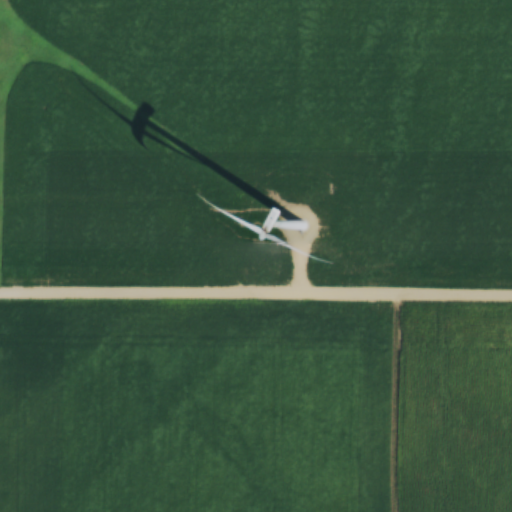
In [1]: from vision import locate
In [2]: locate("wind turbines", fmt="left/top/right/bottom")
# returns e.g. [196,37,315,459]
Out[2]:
[196,194,330,264]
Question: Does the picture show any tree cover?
No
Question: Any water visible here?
No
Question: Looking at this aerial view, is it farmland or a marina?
farmland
